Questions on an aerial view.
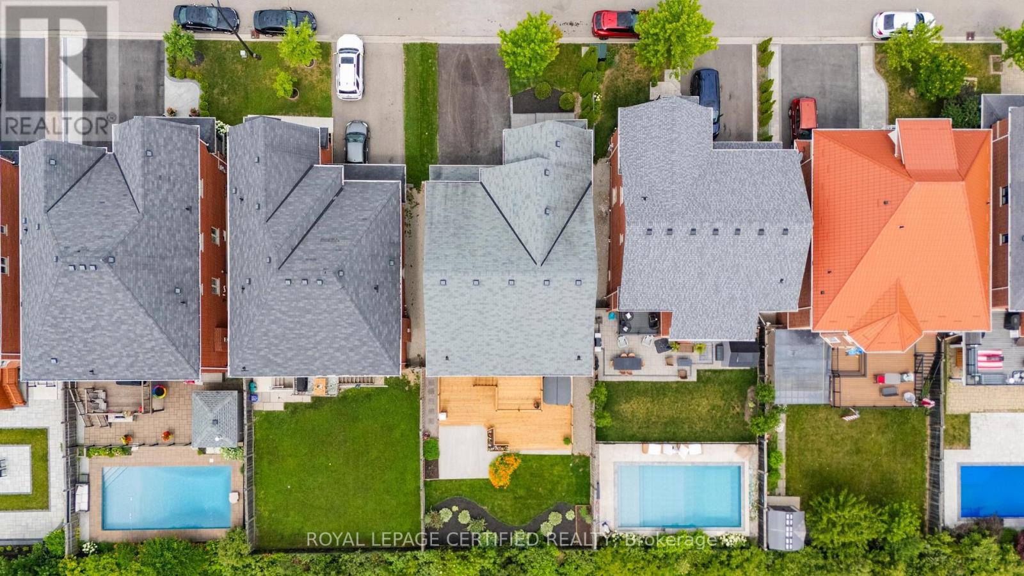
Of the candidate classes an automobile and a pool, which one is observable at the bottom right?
pool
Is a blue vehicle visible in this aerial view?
Yes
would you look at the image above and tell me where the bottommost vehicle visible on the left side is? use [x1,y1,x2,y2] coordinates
[341,120,371,163]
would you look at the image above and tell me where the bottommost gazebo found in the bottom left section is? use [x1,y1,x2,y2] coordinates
[191,390,244,448]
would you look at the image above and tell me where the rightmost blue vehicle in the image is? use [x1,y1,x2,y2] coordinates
[689,70,722,140]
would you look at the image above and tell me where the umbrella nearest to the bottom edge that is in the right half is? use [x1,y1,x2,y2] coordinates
[732,442,752,459]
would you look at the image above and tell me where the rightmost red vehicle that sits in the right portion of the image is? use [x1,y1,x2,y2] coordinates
[785,97,817,140]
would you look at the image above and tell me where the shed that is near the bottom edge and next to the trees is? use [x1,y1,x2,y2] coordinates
[767,506,803,551]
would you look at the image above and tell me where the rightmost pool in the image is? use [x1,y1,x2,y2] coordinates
[958,463,1024,520]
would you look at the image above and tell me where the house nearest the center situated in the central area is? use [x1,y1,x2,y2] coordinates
[423,118,598,377]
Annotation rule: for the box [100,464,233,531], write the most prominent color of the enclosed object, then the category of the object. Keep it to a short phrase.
blue swimming pool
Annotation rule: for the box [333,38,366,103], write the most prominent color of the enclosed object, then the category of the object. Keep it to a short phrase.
white car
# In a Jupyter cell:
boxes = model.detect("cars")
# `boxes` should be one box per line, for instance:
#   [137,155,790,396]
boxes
[588,8,649,43]
[174,4,242,37]
[785,97,817,140]
[869,10,931,44]
[254,7,318,40]
[689,70,722,140]
[333,38,366,103]
[341,120,371,163]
